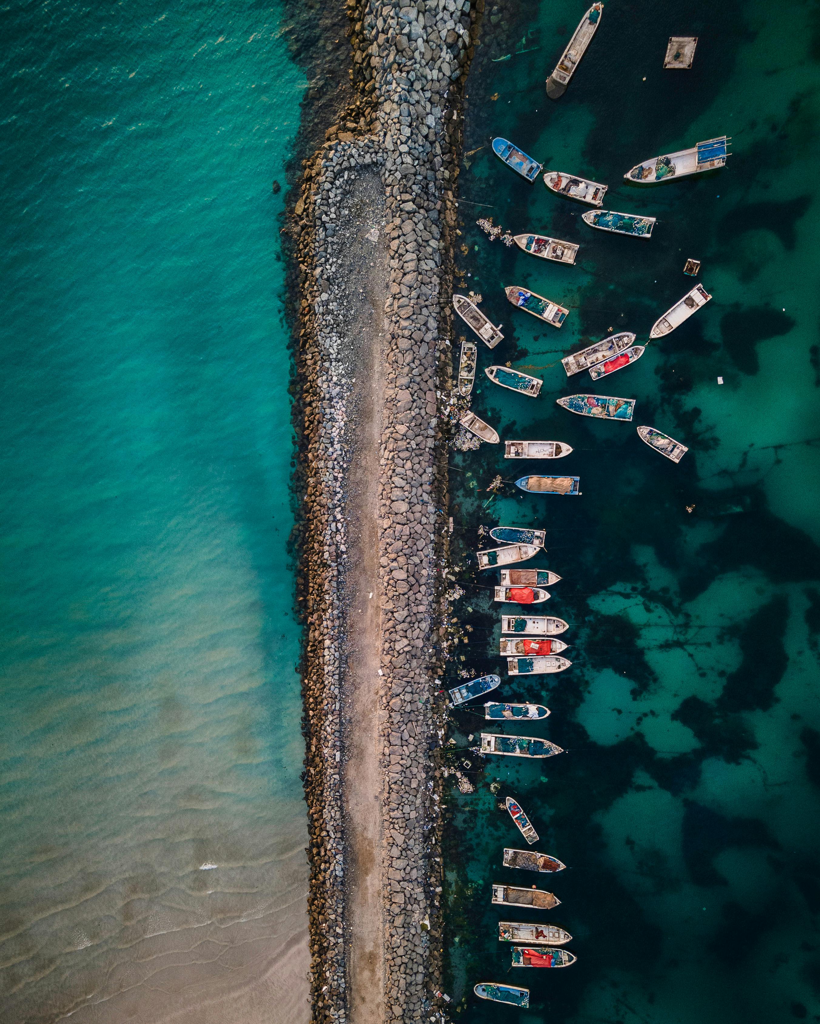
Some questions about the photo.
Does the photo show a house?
No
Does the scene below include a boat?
Yes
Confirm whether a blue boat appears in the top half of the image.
Yes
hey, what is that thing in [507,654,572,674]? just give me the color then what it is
white boat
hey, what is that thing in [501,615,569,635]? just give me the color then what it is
white boat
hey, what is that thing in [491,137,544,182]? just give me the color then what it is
blue boat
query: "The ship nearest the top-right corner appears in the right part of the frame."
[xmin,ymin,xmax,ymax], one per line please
[663,35,699,70]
